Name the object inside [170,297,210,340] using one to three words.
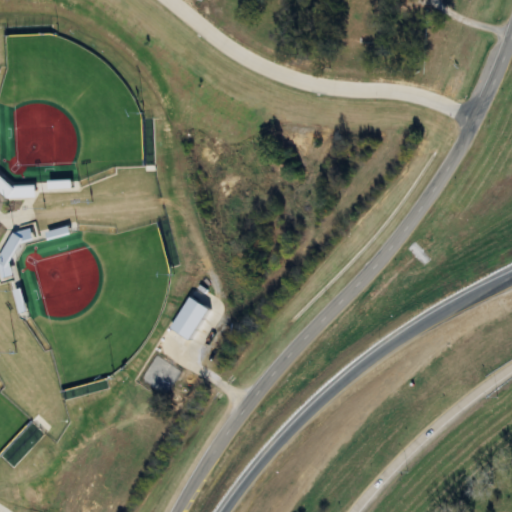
building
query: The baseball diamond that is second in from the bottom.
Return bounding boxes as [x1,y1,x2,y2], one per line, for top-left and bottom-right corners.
[18,224,172,390]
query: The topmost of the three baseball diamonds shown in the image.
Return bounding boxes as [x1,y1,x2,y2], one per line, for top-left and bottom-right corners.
[0,35,146,186]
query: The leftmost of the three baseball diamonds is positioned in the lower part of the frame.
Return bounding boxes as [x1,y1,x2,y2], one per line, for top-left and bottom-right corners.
[0,390,30,452]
